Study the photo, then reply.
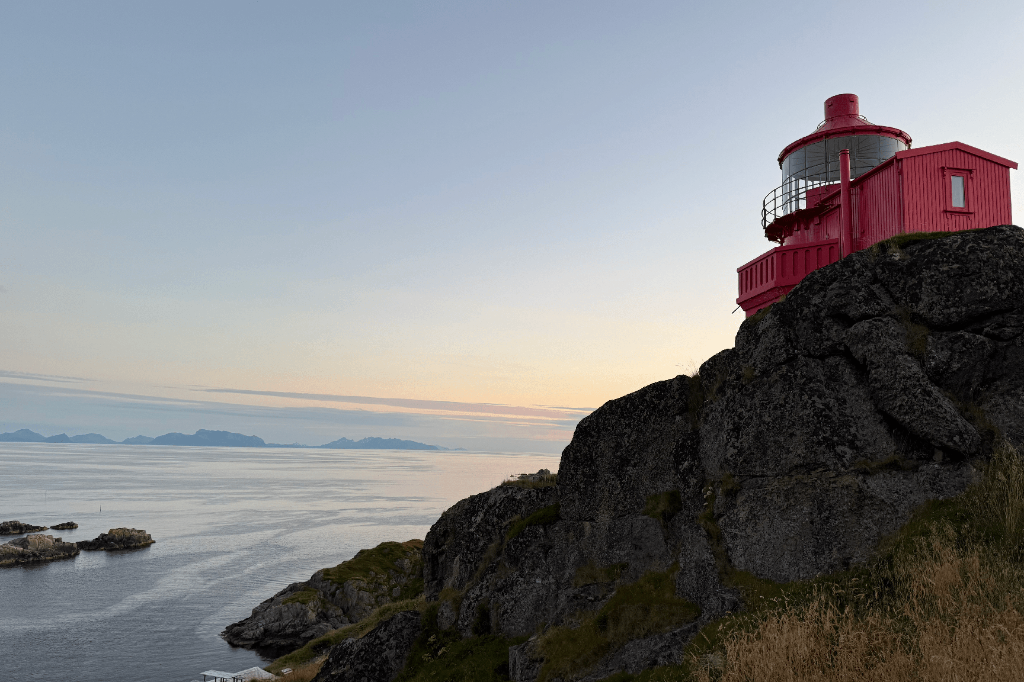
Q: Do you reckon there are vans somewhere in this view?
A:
No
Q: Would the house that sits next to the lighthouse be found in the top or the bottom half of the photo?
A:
top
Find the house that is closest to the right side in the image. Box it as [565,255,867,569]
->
[809,139,1018,257]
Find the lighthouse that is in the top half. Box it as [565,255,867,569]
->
[726,93,916,320]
